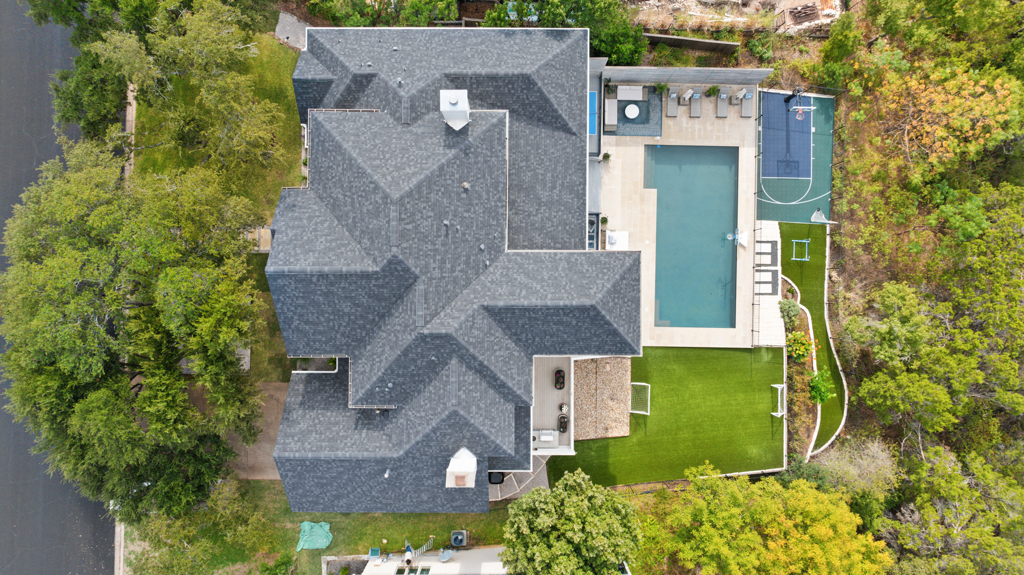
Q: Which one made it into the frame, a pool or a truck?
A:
pool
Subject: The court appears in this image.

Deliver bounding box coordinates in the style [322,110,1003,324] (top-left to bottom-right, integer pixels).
[755,92,834,225]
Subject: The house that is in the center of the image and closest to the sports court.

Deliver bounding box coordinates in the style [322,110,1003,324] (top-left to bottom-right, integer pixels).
[265,26,643,513]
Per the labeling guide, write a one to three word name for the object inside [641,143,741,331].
swimming pool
